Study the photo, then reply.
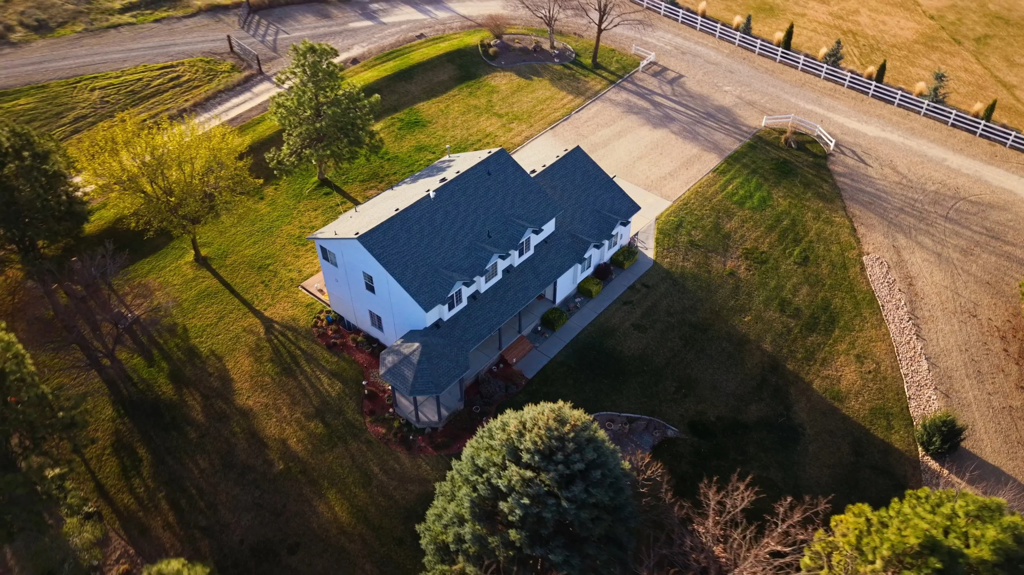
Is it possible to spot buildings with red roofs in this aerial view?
No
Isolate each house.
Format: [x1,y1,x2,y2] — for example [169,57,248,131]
[297,139,642,430]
